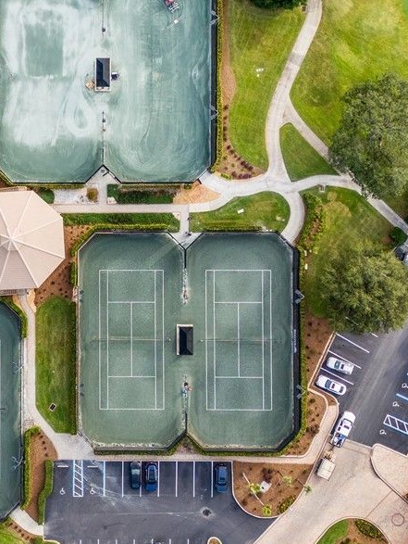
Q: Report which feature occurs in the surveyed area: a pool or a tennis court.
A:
tennis court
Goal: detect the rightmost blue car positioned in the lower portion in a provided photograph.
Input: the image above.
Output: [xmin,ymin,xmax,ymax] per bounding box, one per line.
[216,464,229,493]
